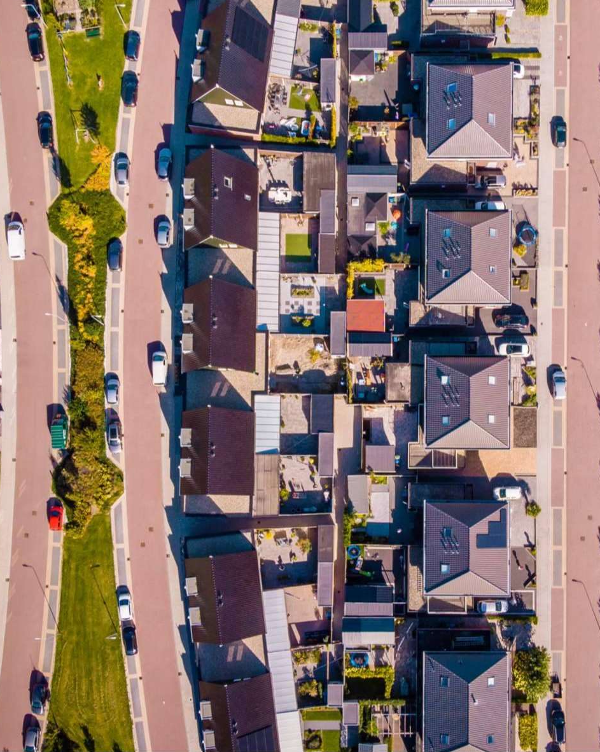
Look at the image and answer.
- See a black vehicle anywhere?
Yes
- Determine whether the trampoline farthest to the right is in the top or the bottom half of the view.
top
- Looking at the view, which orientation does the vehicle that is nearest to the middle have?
from top to bottom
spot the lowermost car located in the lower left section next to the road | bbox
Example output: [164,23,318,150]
[20,723,42,752]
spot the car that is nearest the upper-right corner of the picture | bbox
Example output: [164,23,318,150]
[494,58,527,78]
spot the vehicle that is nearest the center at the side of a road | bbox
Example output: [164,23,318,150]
[147,346,168,388]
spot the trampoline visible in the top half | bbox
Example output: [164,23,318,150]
[518,221,538,242]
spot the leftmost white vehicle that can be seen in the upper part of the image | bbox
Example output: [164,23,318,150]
[2,218,25,260]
